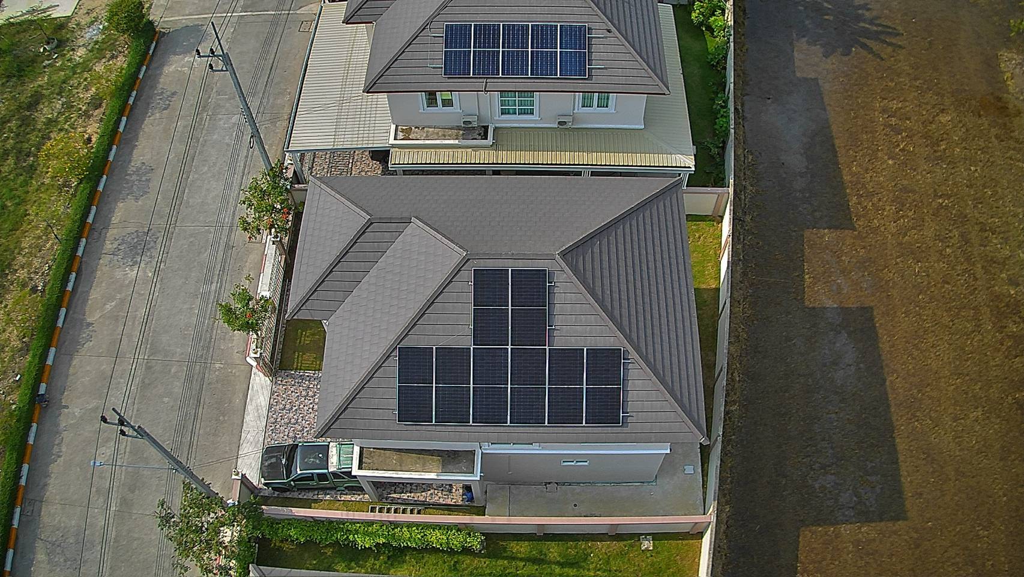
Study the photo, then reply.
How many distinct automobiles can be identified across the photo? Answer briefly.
1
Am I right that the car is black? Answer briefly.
Yes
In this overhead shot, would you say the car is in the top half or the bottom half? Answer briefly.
bottom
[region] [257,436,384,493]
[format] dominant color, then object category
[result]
black car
